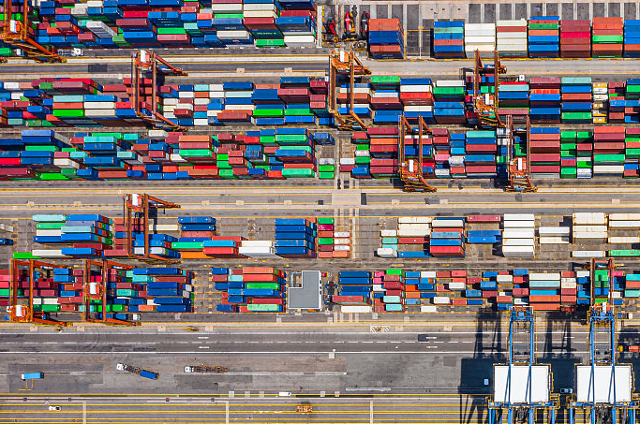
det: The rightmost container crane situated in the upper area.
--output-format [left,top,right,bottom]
[503,112,539,190]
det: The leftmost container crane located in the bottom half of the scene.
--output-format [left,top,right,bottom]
[9,257,78,324]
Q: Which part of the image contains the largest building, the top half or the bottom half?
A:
bottom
